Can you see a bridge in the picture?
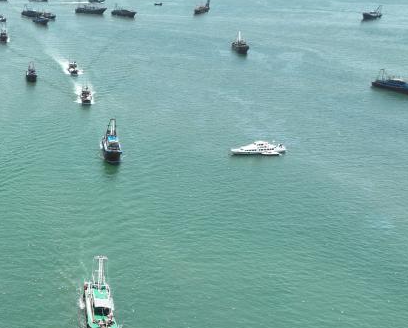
No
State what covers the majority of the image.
water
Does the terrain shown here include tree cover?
No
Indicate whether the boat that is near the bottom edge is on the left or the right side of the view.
left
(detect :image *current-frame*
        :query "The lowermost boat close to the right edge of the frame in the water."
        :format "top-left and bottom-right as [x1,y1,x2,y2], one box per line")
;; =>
[366,63,408,93]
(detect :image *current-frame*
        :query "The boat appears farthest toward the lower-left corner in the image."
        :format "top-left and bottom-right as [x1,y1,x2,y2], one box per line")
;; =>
[82,258,115,328]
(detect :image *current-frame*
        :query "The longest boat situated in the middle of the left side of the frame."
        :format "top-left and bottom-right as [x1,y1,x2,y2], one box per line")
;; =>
[100,119,121,162]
